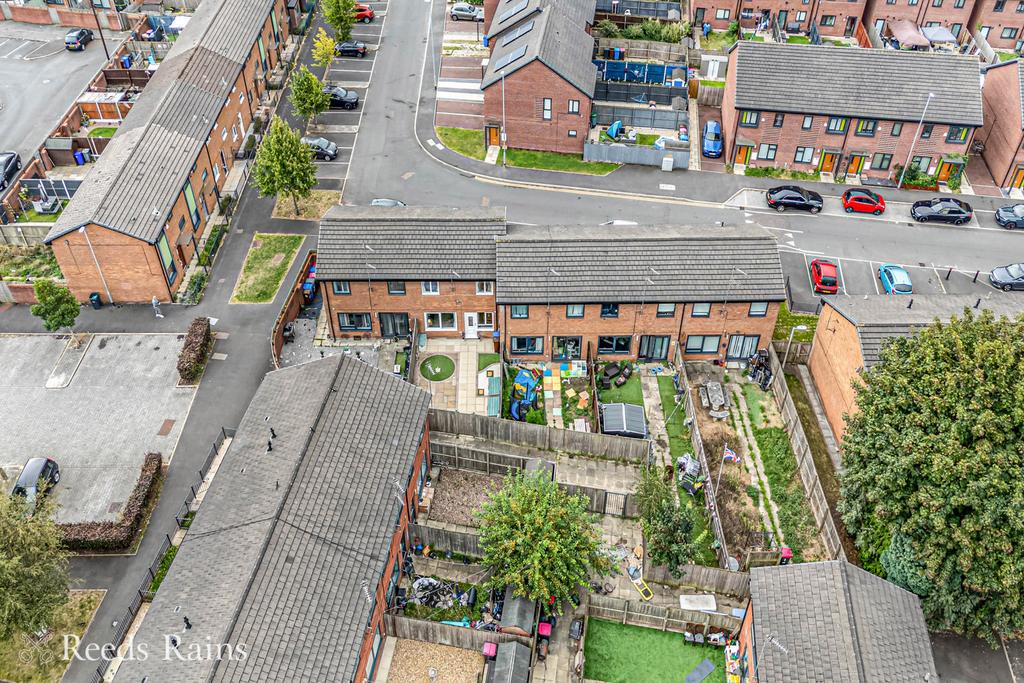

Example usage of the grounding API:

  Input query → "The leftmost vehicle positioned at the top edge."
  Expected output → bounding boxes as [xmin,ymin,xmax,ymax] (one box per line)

[65,30,94,51]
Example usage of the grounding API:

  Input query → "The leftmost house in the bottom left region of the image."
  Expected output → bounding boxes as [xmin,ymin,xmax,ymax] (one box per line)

[111,356,433,683]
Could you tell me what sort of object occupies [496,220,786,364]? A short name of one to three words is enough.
house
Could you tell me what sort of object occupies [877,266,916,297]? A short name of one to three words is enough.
car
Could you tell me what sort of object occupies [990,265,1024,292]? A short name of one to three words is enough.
car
